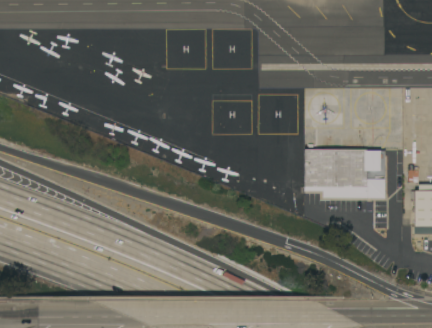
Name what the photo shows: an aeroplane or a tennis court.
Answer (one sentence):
Of the two, only an aeroplane appears.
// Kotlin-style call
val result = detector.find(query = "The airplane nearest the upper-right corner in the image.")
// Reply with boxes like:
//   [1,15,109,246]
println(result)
[405,142,419,164]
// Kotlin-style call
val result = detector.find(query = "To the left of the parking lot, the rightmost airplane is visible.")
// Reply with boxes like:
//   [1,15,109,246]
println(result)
[216,166,238,182]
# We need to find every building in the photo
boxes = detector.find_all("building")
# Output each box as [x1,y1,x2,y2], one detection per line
[303,149,386,200]
[414,184,432,234]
